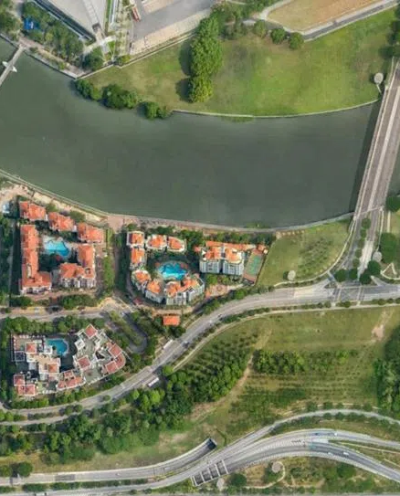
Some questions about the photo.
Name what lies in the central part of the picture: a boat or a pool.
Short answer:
pool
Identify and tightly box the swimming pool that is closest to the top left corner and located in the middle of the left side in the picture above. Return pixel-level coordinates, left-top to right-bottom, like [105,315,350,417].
[42,237,70,258]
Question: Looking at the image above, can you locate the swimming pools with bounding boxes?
[42,237,70,258]
[158,261,189,282]
[46,337,68,356]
